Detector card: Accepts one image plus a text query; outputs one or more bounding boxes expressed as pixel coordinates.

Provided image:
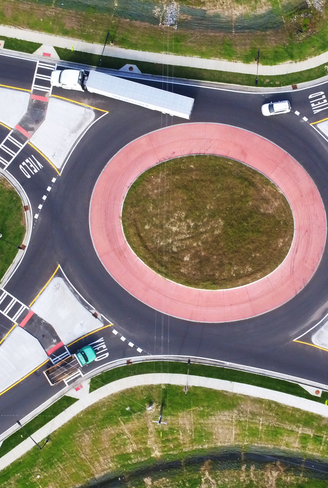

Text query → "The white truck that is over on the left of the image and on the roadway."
[57,61,194,118]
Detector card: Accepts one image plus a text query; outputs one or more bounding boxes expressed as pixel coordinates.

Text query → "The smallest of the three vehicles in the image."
[260,101,292,117]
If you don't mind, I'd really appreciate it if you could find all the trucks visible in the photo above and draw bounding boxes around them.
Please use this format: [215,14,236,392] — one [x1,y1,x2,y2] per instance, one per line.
[57,61,194,118]
[38,344,101,385]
